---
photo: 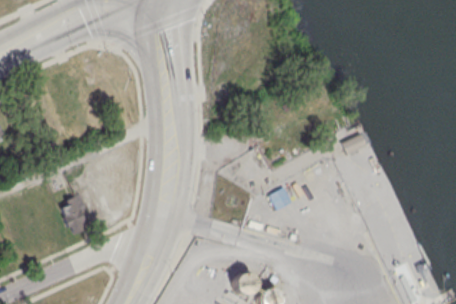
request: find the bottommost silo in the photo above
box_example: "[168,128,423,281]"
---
[259,288,285,304]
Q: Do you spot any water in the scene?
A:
Yes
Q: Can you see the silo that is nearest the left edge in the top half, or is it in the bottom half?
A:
bottom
